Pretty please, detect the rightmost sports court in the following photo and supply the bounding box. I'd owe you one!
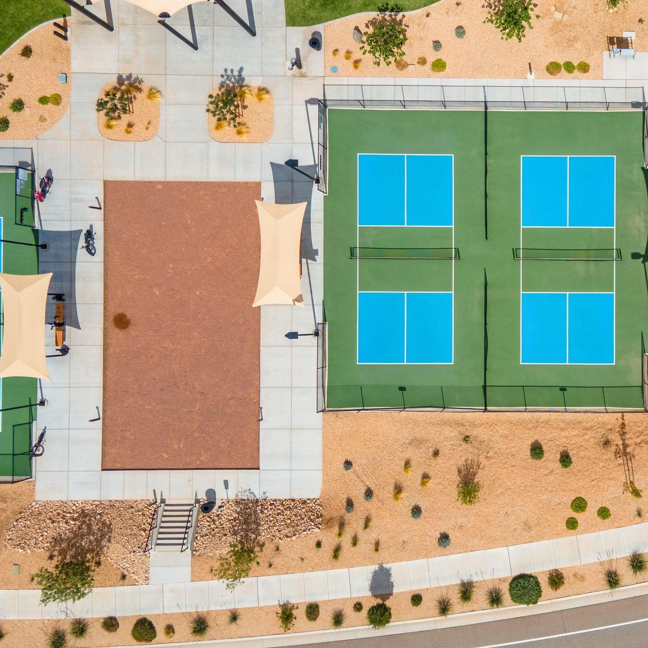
[485,109,648,410]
